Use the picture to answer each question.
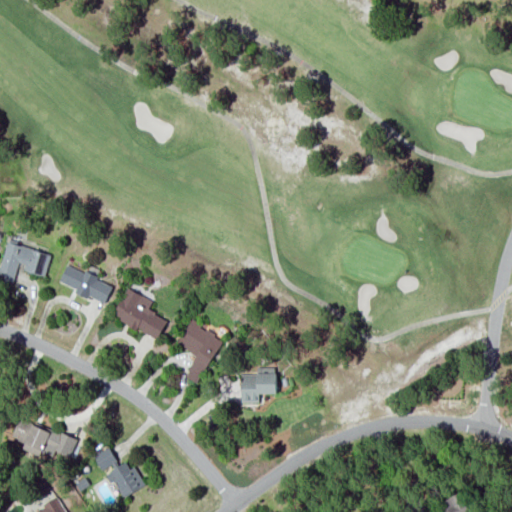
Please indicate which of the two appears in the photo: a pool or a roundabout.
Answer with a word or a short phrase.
pool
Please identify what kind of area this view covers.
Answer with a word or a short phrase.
golf course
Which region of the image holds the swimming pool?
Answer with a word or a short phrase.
bottom left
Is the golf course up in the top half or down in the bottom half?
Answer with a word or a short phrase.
top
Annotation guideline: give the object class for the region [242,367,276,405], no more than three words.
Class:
house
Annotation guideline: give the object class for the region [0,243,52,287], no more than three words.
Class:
house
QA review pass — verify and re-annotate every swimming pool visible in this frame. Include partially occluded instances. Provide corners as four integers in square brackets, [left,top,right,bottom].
[92,478,120,508]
